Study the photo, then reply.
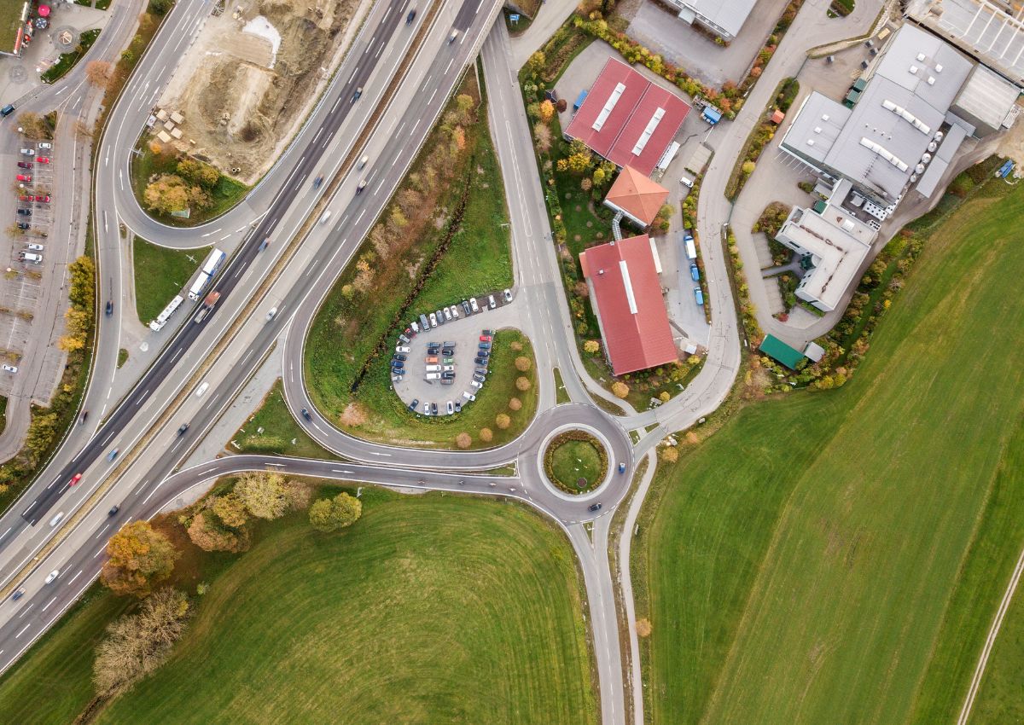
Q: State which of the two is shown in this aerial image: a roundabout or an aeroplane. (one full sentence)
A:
Visible in the photo is a roundabout.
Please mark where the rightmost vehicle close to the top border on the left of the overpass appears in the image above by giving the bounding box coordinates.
[446,26,459,43]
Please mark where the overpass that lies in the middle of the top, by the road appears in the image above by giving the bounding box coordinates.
[463,0,508,74]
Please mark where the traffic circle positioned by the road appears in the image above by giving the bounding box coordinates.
[517,403,635,521]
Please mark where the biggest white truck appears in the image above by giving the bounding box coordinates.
[183,245,222,298]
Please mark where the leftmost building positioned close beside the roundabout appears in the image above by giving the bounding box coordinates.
[579,234,678,376]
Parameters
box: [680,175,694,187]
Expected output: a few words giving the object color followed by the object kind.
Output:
white vehicle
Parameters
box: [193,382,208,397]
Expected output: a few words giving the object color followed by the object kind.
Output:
white vehicle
